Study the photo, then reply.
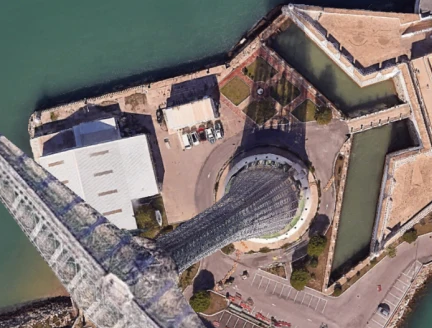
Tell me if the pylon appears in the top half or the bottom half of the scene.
bottom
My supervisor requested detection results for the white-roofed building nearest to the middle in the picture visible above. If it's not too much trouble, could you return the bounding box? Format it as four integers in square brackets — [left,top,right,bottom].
[161,95,223,148]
